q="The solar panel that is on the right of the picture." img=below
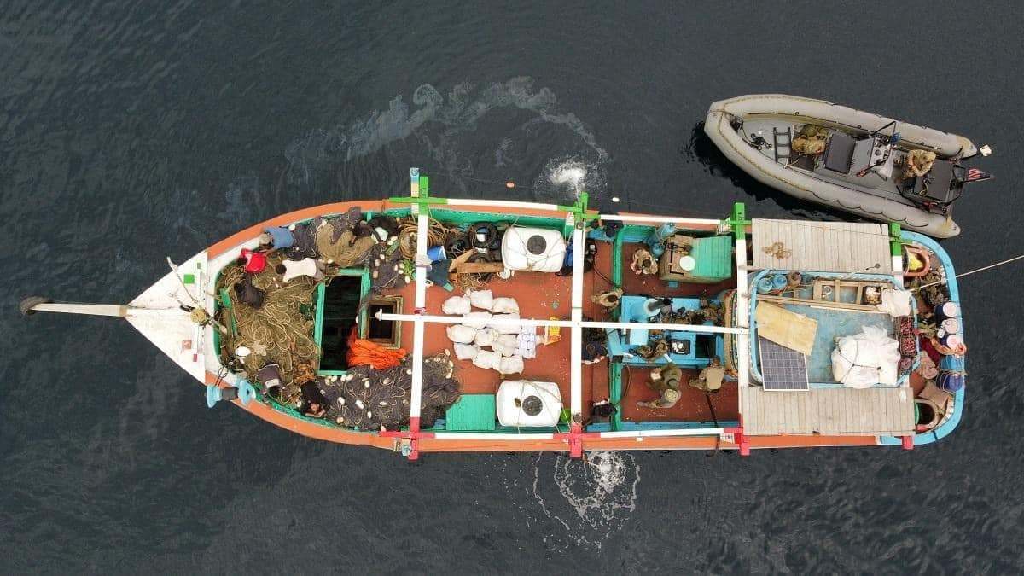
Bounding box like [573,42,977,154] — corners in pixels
[758,336,811,392]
